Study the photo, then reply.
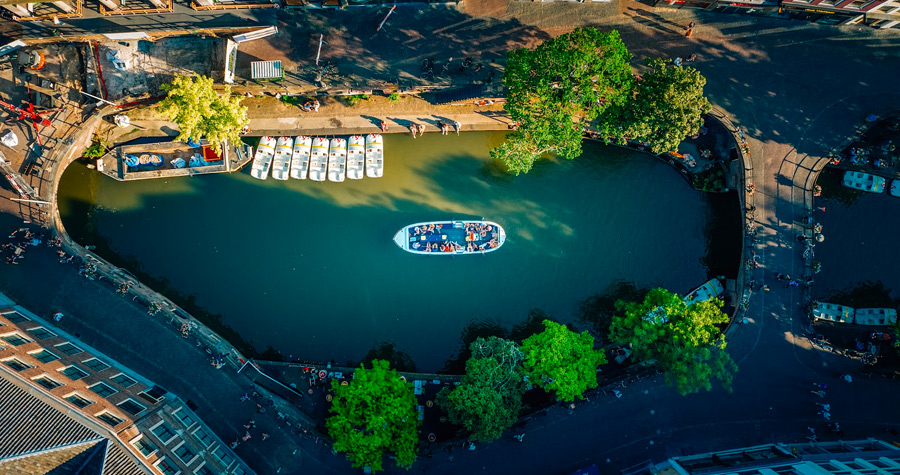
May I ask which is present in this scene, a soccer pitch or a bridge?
bridge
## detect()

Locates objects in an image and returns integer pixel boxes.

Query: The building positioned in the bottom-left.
[0,293,261,475]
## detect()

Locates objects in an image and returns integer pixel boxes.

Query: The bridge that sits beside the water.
[728,164,815,317]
